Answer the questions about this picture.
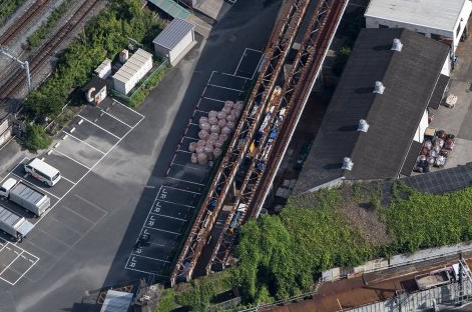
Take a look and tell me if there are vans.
Yes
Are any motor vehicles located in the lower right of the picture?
No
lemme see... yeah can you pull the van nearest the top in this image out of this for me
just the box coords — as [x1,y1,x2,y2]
[21,153,61,184]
